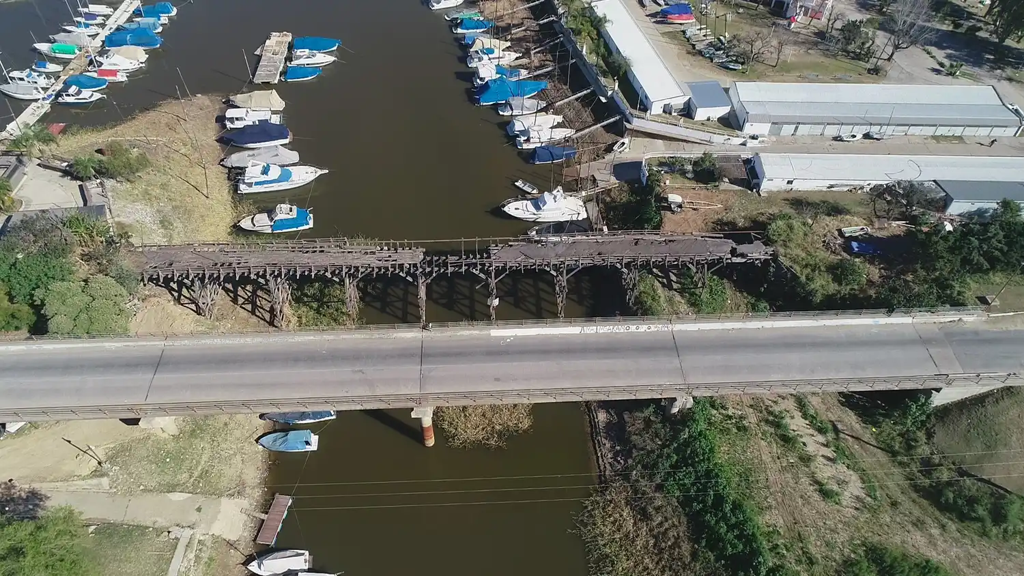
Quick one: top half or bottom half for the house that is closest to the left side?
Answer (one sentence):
The top half of the photo is where the house that is closest to the left side is.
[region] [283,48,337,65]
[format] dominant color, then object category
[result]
white boat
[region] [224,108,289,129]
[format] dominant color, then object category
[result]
white boat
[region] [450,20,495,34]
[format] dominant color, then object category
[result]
blue boat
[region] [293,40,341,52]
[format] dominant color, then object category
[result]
blue boat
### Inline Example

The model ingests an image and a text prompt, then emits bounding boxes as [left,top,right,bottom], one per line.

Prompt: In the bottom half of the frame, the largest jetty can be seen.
[238,495,294,546]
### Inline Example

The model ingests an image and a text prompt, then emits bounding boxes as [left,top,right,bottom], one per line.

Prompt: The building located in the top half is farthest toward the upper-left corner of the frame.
[0,155,30,207]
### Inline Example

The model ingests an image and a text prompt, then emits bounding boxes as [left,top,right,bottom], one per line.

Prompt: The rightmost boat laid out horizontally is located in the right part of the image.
[841,223,872,237]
